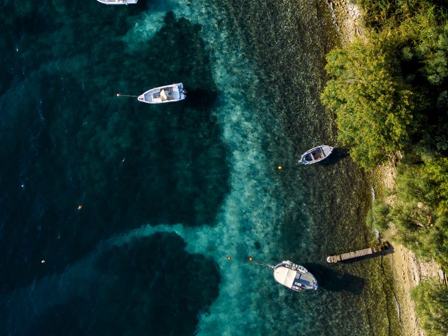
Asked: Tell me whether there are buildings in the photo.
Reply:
No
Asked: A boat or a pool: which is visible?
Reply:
boat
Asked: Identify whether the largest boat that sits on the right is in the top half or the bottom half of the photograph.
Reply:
bottom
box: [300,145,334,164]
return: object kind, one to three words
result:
boat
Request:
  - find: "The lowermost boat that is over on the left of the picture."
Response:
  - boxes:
[137,83,191,105]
